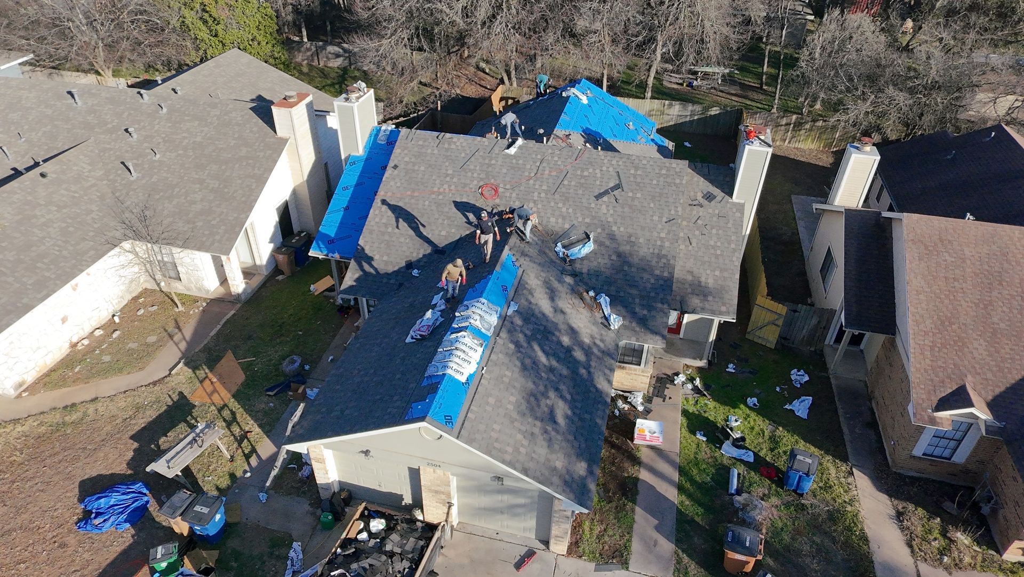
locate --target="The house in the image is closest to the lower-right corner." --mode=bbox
[801,110,1024,577]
